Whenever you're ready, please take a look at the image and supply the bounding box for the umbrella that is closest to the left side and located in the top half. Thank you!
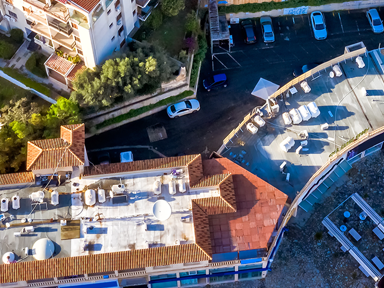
[252,75,278,96]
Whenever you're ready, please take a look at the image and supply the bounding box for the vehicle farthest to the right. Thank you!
[366,4,384,34]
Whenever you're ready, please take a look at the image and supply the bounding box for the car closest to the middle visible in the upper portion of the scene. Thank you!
[166,94,203,119]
